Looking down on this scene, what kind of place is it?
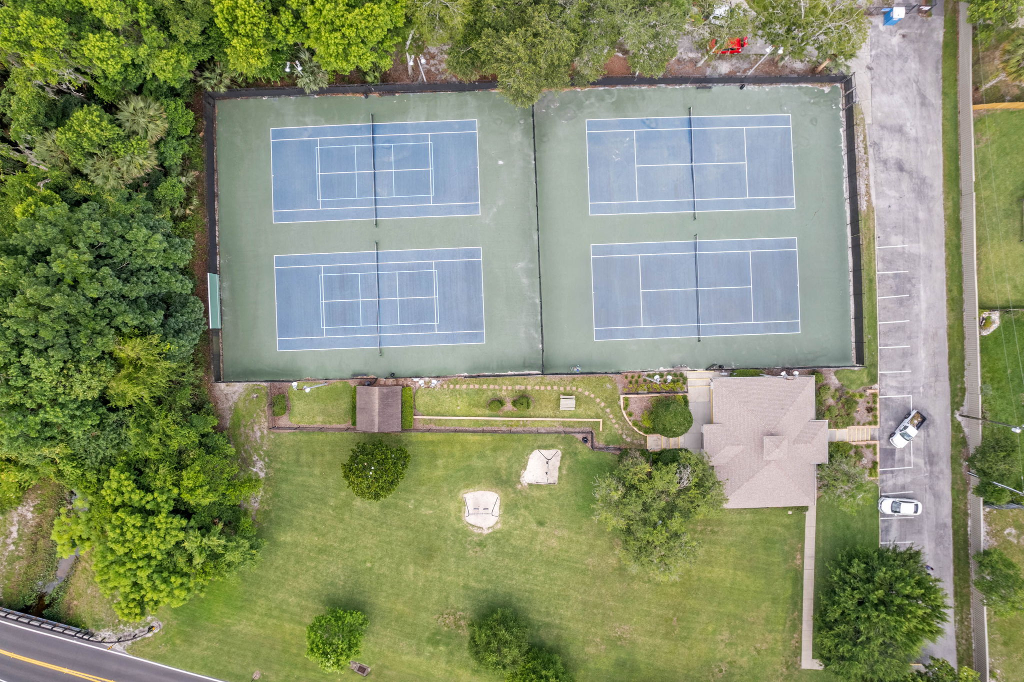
sports ground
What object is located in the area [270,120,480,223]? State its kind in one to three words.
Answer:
tennis court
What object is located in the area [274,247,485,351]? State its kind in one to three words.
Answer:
tennis court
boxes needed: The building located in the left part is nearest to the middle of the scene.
[356,386,402,433]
